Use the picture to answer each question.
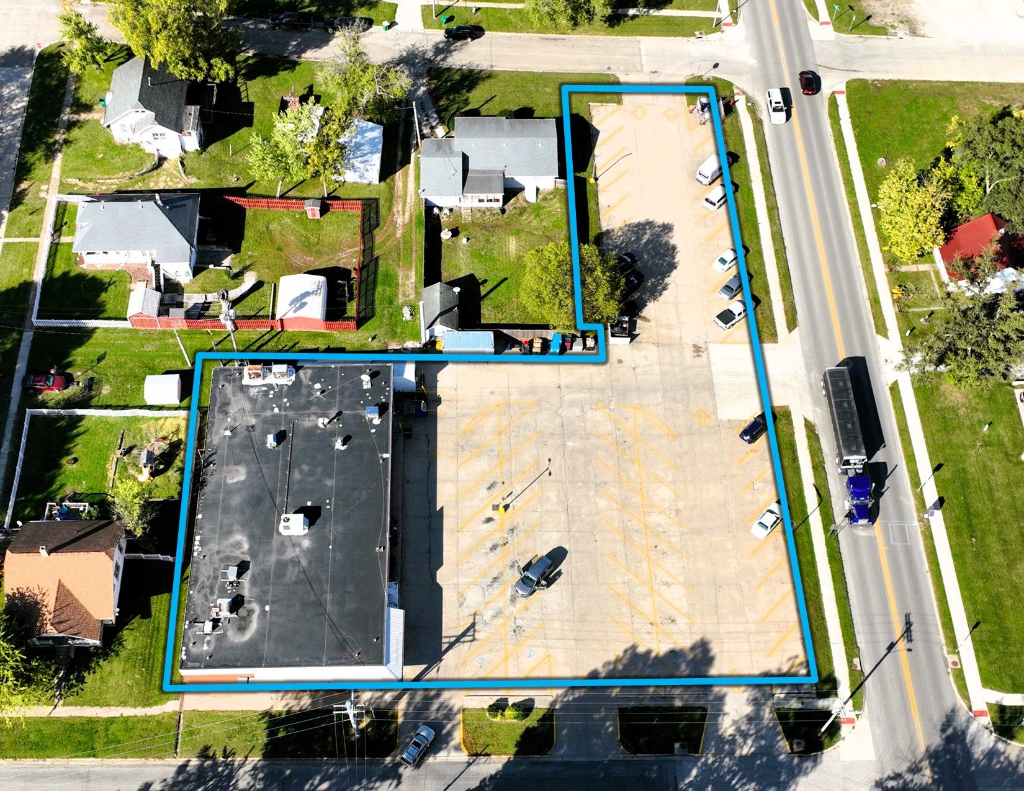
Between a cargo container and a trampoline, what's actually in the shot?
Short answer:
cargo container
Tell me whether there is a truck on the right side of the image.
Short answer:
Yes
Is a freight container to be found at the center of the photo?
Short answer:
Yes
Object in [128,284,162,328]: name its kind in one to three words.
shed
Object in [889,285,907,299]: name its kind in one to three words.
work vehicle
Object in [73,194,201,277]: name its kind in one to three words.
house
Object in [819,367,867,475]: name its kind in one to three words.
trailer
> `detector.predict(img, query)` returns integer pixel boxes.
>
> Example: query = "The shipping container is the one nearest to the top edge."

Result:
[443,331,495,360]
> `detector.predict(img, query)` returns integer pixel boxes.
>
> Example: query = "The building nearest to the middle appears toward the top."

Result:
[417,279,459,346]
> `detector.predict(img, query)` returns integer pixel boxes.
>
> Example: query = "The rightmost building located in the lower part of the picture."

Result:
[179,357,417,693]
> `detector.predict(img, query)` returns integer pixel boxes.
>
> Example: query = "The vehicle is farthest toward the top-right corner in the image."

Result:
[800,70,817,98]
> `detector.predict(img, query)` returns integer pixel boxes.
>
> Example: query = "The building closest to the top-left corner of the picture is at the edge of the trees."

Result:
[103,57,221,167]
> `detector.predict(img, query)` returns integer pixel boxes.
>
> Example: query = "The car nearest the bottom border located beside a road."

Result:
[396,719,436,772]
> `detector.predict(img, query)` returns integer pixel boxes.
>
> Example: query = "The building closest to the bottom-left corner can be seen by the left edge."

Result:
[2,521,138,669]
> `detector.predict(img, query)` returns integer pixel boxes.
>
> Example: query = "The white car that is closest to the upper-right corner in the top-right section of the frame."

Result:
[768,90,787,121]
